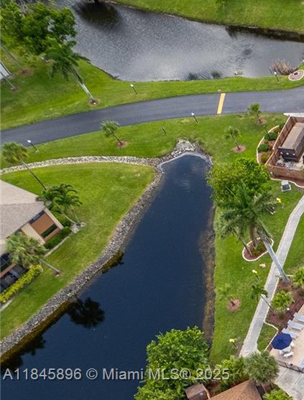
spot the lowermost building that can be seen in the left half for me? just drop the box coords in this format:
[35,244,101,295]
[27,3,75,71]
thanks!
[0,185,70,271]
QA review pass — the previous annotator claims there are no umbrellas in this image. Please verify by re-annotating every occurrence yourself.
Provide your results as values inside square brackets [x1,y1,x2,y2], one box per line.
[270,333,294,353]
